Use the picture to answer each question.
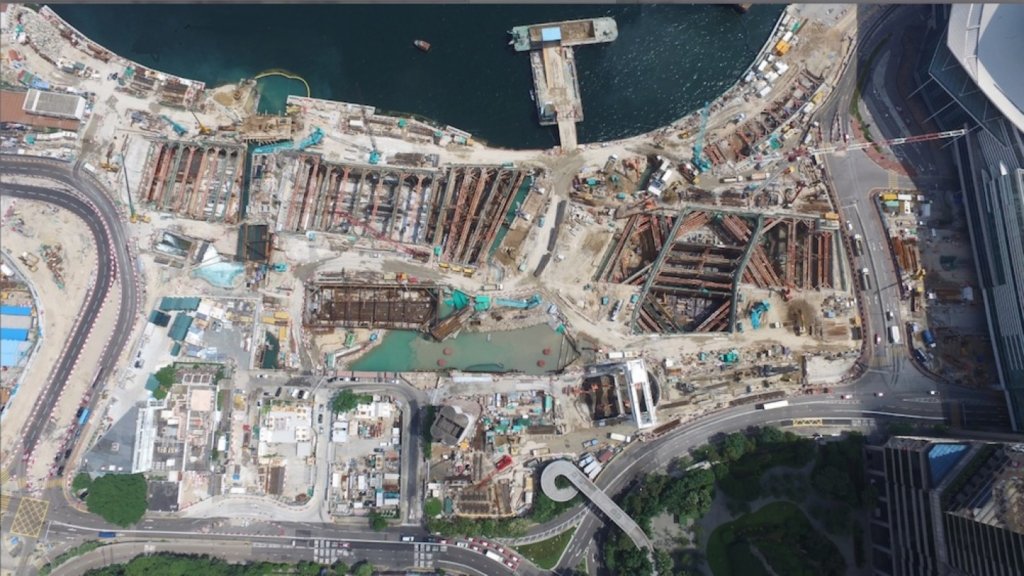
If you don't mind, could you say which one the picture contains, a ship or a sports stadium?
ship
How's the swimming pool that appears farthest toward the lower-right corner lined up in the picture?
diagonally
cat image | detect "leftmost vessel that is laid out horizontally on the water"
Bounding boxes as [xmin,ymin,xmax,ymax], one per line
[508,17,619,54]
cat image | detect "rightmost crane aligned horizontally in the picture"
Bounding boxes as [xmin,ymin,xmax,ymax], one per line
[737,128,968,178]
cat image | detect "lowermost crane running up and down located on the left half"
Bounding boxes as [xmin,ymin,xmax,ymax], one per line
[120,155,145,227]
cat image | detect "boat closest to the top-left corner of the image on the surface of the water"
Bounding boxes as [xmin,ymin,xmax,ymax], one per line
[415,39,430,52]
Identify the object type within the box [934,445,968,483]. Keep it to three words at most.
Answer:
swimming pool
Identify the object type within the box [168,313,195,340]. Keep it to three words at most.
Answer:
shed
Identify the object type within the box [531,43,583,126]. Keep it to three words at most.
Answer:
ship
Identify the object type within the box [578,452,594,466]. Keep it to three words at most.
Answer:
vehicle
